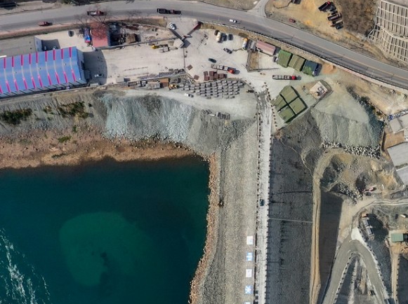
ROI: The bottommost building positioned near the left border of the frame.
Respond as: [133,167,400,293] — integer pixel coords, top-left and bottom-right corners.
[0,47,88,103]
